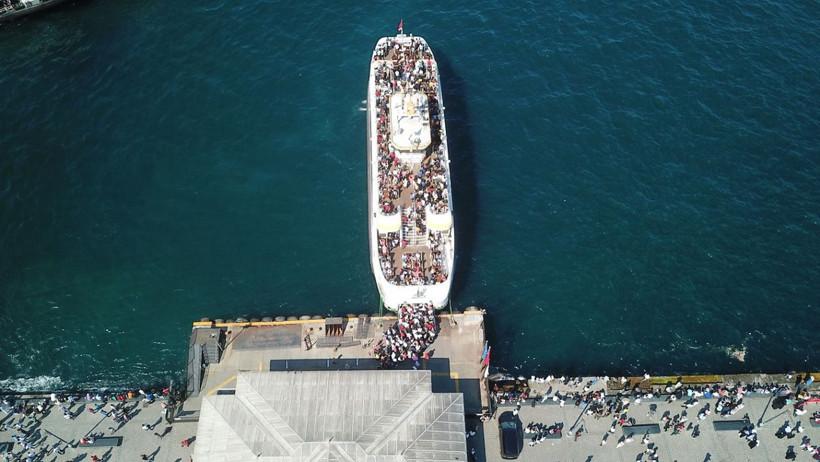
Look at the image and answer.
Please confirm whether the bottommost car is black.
Yes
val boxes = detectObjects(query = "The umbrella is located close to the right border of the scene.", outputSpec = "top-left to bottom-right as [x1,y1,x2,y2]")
[770,396,786,411]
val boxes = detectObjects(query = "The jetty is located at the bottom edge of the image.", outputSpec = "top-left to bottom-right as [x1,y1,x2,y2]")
[192,306,495,462]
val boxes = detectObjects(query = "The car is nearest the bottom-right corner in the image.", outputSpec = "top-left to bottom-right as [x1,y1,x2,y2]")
[497,412,523,462]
